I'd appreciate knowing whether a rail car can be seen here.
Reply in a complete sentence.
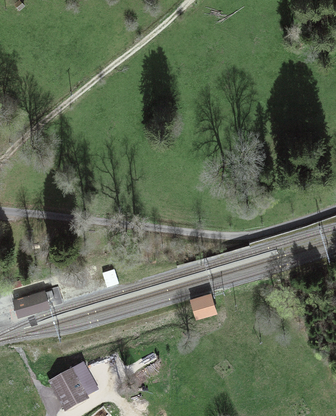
No, there is no rail car in the image.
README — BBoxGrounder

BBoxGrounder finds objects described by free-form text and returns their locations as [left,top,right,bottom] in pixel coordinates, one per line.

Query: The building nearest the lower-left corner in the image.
[50,367,90,410]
